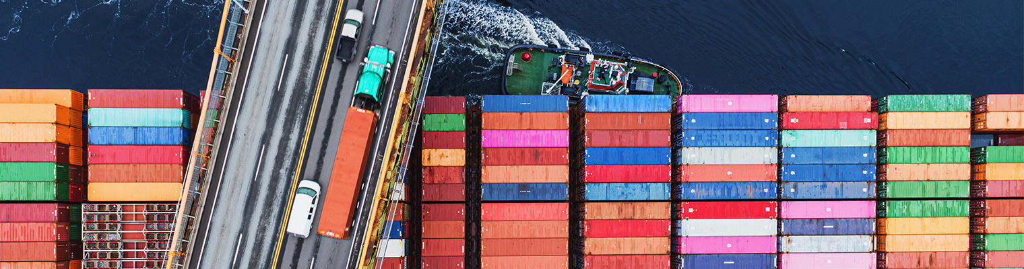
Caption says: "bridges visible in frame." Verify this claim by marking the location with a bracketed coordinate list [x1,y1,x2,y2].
[161,0,452,269]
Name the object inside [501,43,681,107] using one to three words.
boat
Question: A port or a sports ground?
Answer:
port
